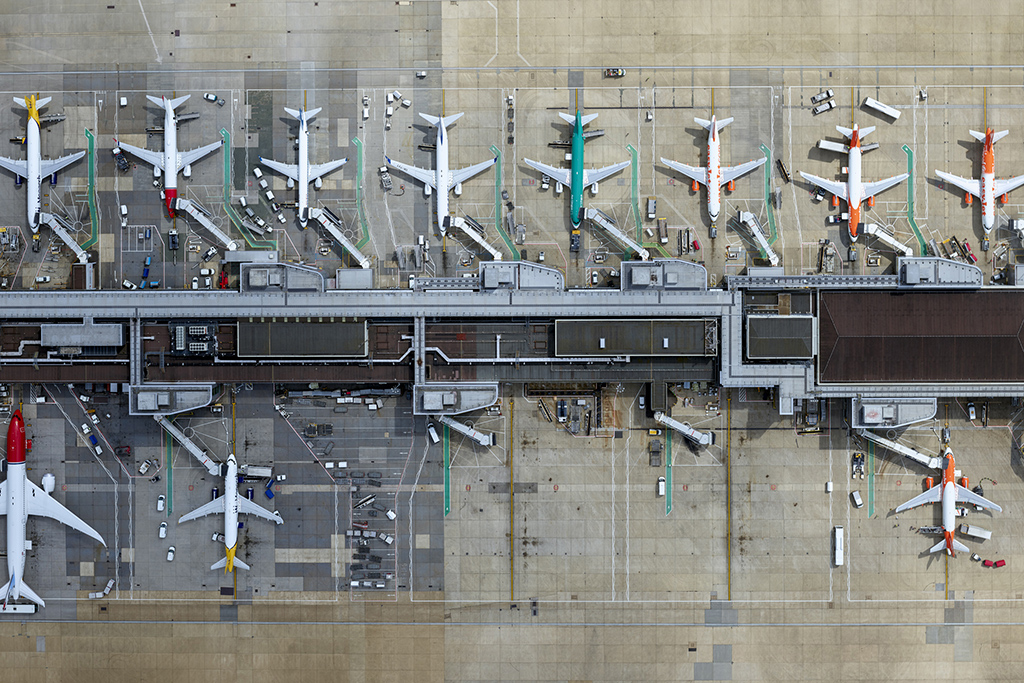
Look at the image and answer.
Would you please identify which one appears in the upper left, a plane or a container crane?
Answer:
plane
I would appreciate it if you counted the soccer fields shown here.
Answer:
0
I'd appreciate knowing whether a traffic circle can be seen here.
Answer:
No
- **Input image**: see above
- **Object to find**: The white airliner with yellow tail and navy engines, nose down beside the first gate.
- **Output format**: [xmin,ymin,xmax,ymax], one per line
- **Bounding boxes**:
[0,93,87,233]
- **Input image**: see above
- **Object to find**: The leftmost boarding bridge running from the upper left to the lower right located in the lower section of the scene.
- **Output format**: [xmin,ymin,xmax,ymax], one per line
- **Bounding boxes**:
[154,414,227,476]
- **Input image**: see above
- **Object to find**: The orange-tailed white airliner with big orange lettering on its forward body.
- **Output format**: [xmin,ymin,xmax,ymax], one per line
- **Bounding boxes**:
[934,126,1024,235]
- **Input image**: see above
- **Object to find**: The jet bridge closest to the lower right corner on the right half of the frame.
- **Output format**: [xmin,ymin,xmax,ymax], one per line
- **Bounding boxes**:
[854,428,947,471]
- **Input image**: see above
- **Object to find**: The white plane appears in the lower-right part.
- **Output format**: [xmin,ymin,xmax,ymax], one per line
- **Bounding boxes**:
[895,447,1005,555]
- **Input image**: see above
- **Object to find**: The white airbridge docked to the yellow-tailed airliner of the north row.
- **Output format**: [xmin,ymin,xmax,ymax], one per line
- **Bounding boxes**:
[35,211,90,262]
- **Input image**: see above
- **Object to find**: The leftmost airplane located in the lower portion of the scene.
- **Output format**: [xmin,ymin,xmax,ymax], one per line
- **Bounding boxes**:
[0,409,107,609]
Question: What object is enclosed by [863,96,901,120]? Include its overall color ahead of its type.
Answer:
white bus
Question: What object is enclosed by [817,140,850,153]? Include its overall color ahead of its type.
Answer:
white vehicle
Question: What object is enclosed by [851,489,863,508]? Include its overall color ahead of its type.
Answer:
white vehicle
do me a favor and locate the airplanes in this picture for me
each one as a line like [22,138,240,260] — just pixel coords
[524,110,631,228]
[386,111,496,236]
[0,409,107,609]
[258,106,347,228]
[801,123,909,242]
[934,126,1024,235]
[113,93,223,218]
[0,93,87,233]
[660,115,768,222]
[177,453,284,571]
[895,447,1005,555]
